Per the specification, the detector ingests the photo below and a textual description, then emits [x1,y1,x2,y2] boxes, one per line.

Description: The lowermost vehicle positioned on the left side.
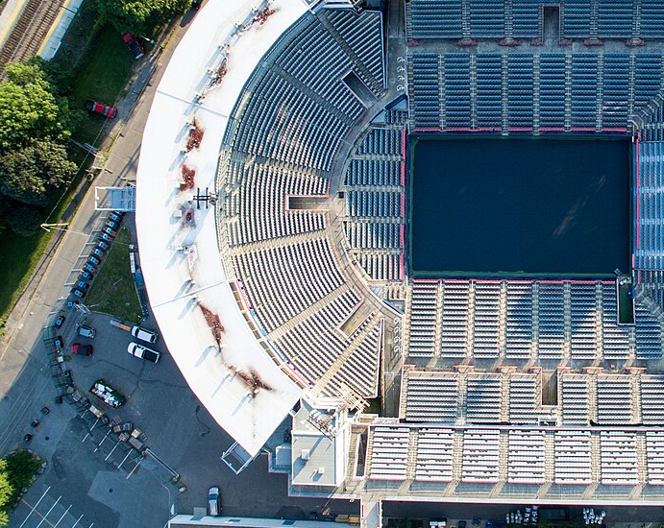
[205,485,221,517]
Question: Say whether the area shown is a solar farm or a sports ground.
sports ground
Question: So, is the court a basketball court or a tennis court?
tennis court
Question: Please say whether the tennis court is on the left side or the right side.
right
